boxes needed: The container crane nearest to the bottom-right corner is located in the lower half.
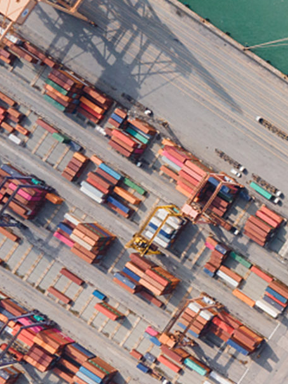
[157,292,220,350]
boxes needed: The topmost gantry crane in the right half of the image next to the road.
[180,172,242,227]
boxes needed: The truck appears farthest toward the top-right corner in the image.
[257,117,288,139]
